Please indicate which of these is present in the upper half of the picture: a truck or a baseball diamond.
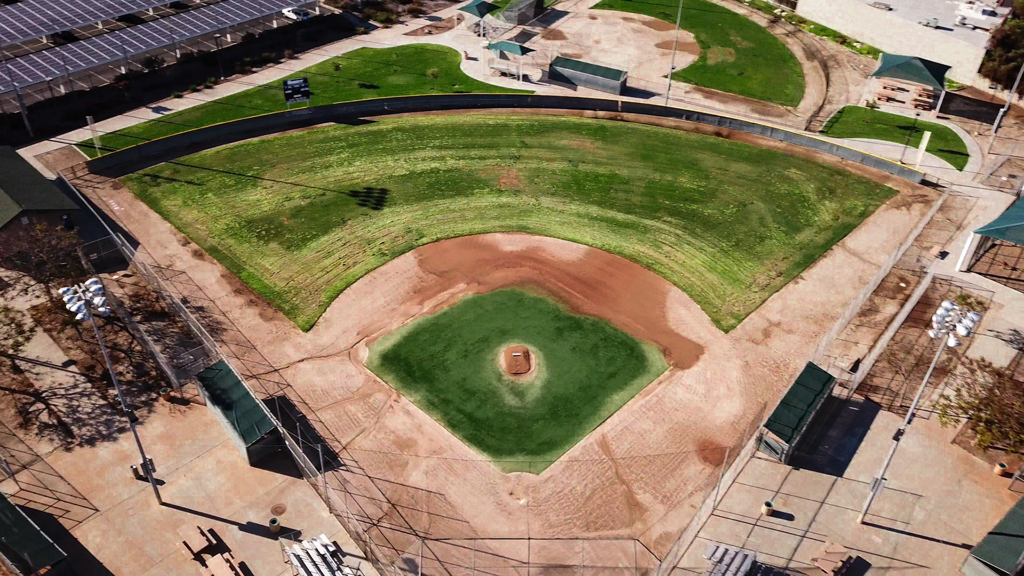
baseball diamond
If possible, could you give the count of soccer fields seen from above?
0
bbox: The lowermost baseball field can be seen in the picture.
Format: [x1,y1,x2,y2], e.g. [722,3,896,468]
[64,109,944,576]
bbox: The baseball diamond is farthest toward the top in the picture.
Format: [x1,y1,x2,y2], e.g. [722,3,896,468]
[512,0,811,128]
